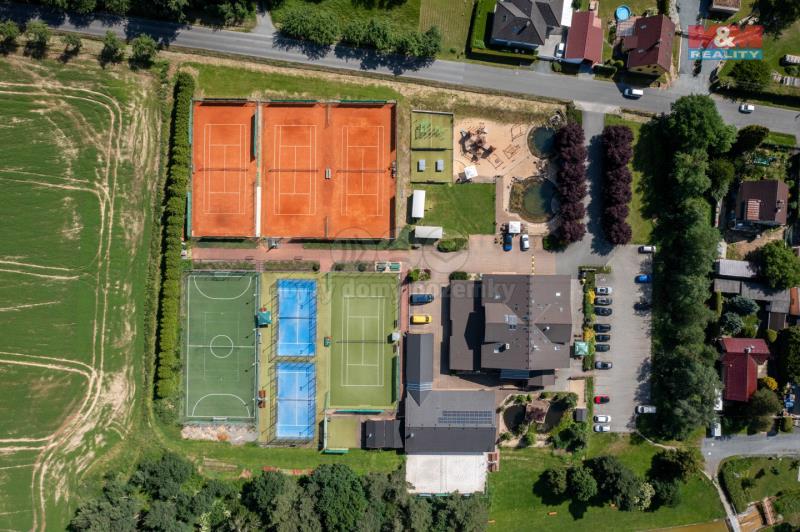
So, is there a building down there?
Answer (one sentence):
Yes, there's a building here.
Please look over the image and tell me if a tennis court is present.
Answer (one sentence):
Yes, looking at the shot, I can spot a tennis court.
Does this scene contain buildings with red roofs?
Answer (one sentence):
Yes, the frame does contain a building with a red roof.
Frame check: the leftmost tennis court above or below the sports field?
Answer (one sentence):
The leftmost tennis court is located above the sports field in this view.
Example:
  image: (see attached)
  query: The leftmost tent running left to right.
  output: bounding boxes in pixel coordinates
[415,227,443,239]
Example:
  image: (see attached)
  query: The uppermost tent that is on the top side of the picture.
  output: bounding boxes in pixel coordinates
[412,191,425,219]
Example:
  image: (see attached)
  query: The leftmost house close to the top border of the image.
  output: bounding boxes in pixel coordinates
[492,0,566,48]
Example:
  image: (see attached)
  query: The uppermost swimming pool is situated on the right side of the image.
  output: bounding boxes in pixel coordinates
[613,5,630,21]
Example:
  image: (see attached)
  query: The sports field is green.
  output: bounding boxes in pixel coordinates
[182,273,258,422]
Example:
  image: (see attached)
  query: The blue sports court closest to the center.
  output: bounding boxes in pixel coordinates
[272,280,316,359]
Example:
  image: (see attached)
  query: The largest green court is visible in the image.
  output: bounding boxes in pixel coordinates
[330,273,396,406]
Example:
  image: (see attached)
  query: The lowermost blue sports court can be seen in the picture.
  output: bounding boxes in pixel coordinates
[272,362,316,444]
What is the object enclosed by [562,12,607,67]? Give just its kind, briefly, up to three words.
house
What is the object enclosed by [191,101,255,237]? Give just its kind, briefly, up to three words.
tennis court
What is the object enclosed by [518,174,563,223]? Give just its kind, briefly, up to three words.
pond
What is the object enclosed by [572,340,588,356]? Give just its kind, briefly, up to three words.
gazebo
